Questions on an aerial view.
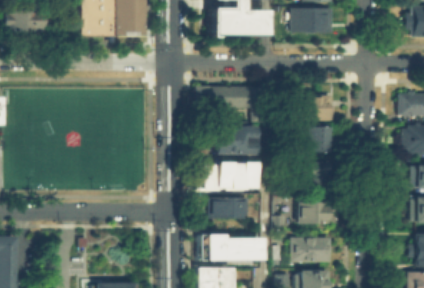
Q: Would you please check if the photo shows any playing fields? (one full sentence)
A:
Yes, this view includes a playing field.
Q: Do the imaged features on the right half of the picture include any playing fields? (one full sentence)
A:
No, looking on the right half of the picture, there is no playing field.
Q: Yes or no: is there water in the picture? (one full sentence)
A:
No, water can't be seen anywhere here.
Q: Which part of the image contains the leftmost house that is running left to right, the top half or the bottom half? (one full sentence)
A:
The leftmost house that is running left to right is in the top half of the image.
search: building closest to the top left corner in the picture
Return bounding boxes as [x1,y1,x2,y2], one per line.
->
[2,12,48,32]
